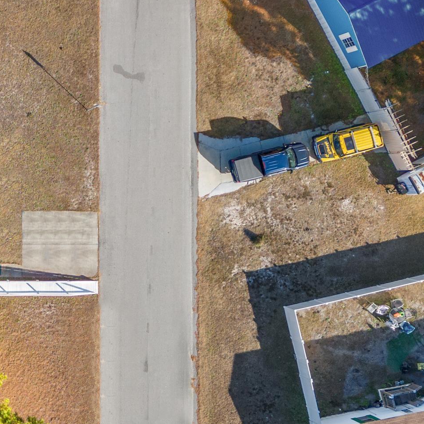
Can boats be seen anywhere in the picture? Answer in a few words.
No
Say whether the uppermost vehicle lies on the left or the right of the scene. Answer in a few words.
right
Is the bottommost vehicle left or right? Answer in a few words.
right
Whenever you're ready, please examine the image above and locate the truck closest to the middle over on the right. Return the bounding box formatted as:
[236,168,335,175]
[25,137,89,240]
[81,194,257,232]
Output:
[224,143,305,182]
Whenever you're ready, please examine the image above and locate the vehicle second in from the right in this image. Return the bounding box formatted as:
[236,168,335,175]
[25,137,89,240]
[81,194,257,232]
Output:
[310,123,382,162]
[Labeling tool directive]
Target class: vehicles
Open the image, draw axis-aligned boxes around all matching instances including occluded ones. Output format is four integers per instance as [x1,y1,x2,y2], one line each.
[224,143,305,182]
[397,164,424,198]
[310,123,382,162]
